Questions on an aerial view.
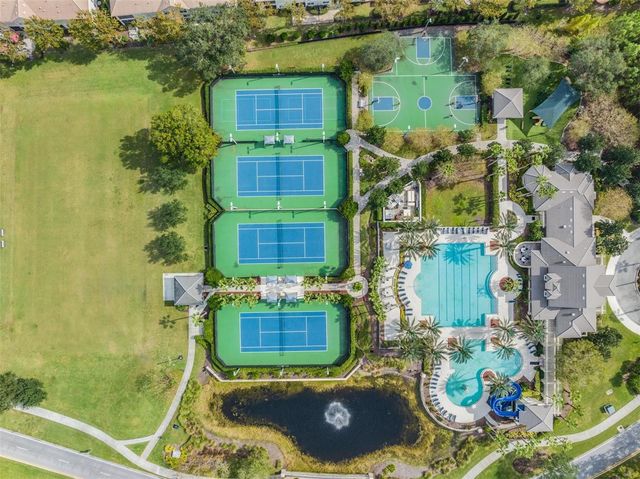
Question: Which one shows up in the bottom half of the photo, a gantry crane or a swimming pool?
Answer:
swimming pool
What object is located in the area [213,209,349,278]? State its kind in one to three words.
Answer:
tennis court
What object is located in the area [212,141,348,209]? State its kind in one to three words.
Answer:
tennis court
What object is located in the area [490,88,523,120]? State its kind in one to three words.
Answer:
building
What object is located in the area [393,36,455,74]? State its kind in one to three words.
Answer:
basketball court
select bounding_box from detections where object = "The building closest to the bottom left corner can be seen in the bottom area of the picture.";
[174,275,206,305]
